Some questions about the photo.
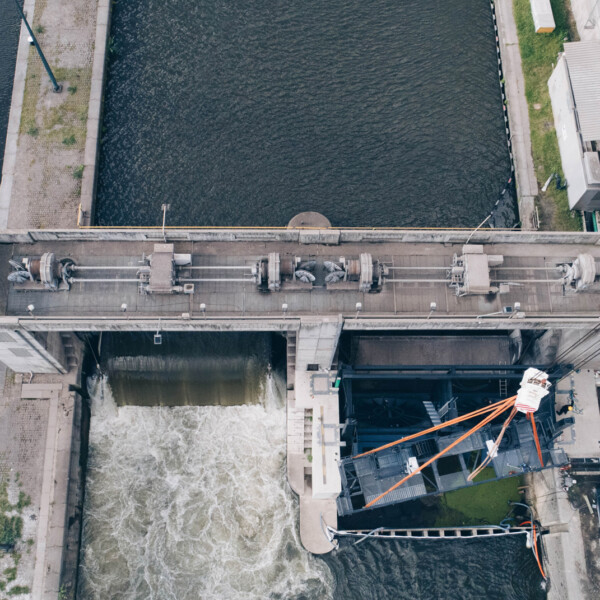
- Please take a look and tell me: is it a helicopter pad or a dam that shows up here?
dam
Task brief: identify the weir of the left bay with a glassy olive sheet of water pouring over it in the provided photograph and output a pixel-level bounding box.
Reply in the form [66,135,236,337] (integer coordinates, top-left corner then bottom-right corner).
[95,332,286,407]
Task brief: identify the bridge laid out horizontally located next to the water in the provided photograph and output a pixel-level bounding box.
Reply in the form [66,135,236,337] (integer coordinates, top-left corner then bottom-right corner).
[0,225,600,371]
